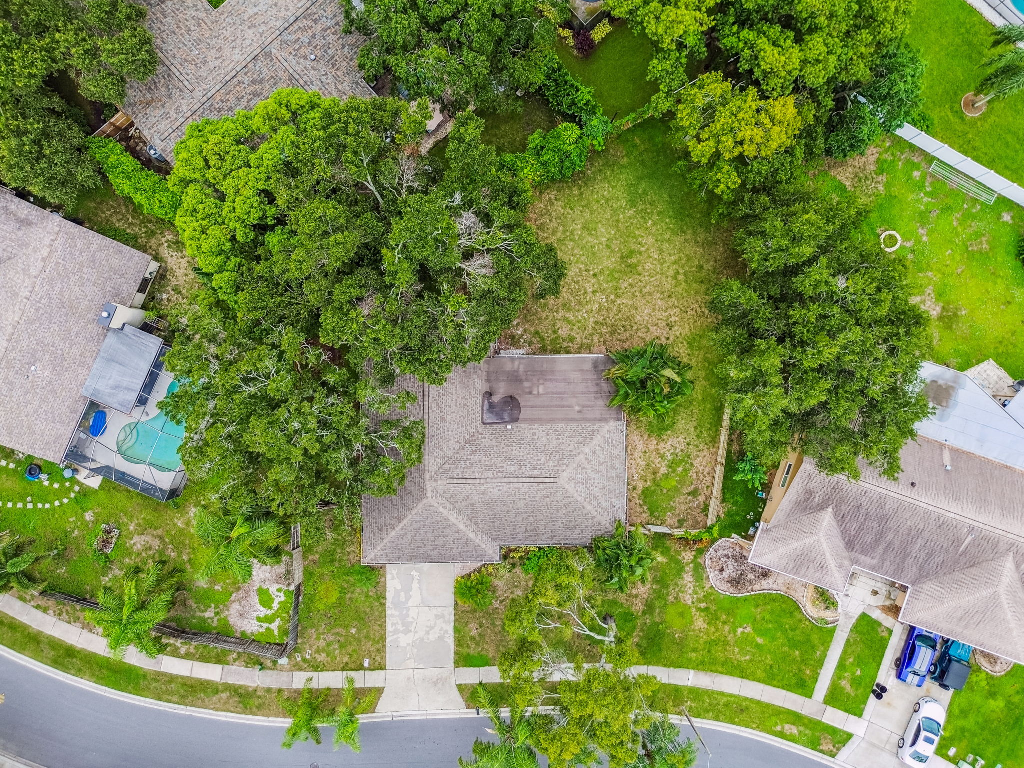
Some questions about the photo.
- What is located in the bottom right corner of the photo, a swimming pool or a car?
car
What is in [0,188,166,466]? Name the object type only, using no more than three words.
house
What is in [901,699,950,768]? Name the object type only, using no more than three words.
car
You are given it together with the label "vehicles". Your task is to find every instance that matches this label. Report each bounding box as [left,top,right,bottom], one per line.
[901,699,950,768]
[932,637,978,696]
[898,625,944,691]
